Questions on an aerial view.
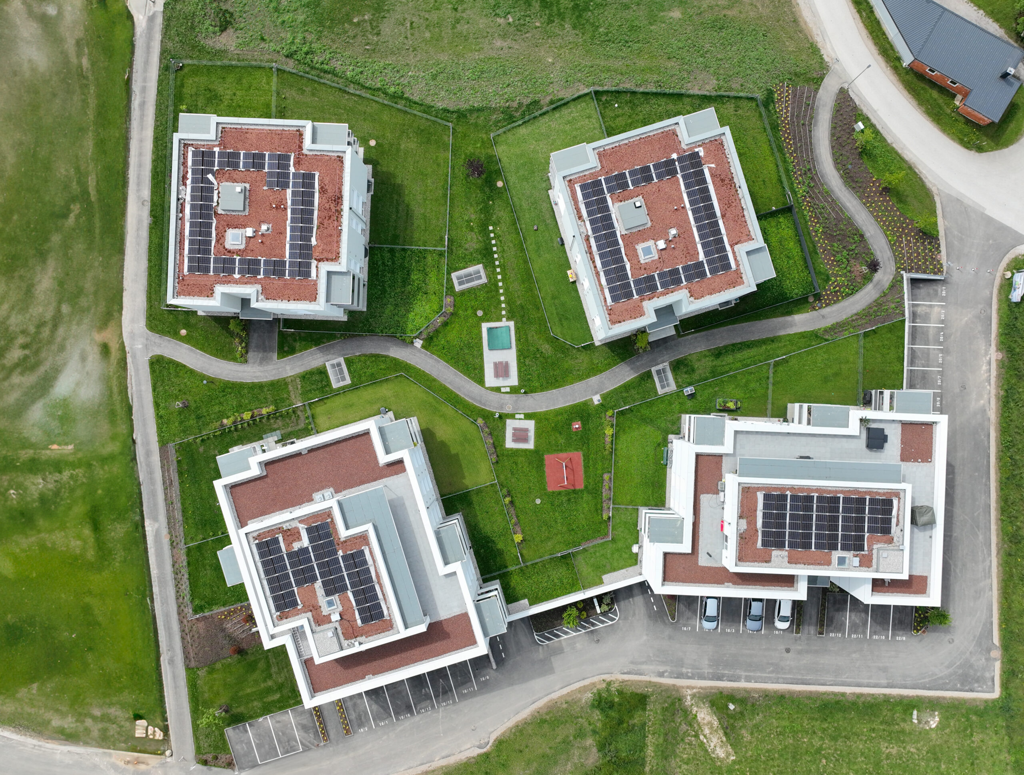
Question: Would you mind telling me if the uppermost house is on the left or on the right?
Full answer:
The uppermost house sits on the right side.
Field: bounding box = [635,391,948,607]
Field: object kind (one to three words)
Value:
building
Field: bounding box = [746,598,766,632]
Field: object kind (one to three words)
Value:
car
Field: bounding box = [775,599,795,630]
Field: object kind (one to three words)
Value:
car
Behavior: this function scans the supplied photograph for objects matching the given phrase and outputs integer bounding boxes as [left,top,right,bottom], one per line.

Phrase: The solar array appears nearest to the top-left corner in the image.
[182,148,316,280]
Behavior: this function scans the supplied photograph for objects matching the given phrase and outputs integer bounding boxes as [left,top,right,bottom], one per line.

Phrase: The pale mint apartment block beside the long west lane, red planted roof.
[167,113,368,320]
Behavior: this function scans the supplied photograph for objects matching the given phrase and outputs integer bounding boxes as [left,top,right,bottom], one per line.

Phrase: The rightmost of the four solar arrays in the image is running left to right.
[757,492,895,554]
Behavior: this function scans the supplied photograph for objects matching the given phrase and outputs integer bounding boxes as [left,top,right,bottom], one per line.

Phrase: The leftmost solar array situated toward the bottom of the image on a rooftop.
[251,520,386,627]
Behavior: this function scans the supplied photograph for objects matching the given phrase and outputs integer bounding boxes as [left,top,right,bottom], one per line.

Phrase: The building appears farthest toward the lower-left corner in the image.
[213,413,511,709]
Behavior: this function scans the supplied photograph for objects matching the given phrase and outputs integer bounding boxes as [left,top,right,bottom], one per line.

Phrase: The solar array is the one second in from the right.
[576,148,736,304]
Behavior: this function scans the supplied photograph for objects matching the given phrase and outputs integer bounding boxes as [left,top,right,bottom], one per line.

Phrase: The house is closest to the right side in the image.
[871,0,1024,125]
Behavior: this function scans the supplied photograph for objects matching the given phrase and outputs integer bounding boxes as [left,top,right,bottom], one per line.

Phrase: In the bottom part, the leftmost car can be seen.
[702,596,721,630]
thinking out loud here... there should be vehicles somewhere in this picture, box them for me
[746,598,766,632]
[702,596,721,630]
[775,599,795,630]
